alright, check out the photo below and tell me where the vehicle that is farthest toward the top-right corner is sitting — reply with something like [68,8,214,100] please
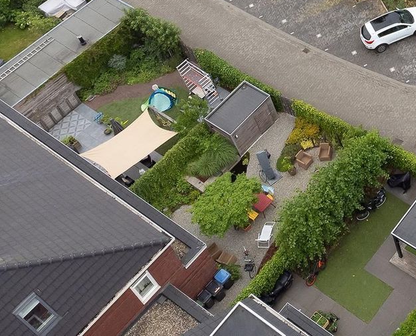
[359,8,416,55]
